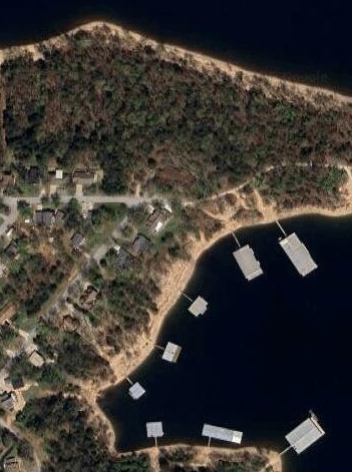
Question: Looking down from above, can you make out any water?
Yes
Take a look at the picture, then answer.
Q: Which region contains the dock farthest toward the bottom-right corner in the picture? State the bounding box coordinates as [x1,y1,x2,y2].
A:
[280,410,324,454]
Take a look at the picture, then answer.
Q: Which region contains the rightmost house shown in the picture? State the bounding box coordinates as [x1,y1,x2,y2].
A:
[146,202,172,232]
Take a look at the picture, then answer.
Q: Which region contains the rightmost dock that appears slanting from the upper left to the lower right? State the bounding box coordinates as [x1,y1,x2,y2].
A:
[276,219,317,277]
